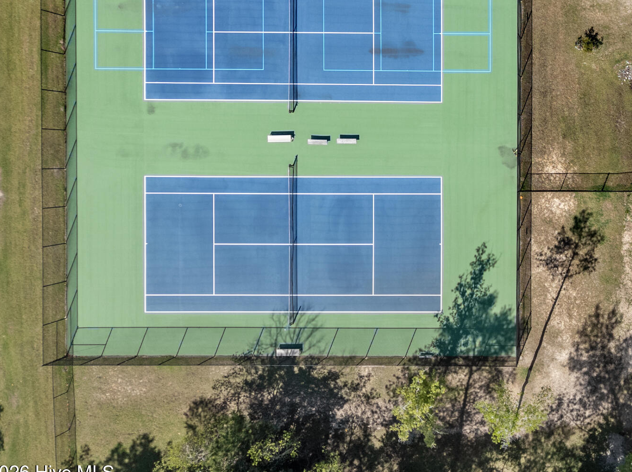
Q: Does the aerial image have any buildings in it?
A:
No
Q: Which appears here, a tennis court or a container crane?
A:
tennis court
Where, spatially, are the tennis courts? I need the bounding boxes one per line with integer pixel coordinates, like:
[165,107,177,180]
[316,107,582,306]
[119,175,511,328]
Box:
[66,139,517,357]
[66,0,517,139]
